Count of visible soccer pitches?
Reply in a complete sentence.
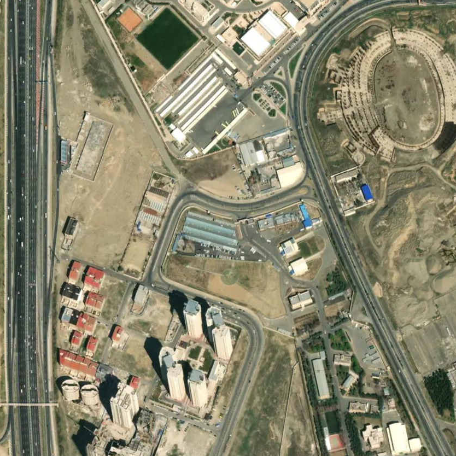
I count just 1 soccer pitch.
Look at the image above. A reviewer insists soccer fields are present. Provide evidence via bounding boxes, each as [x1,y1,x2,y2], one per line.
[136,8,200,70]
